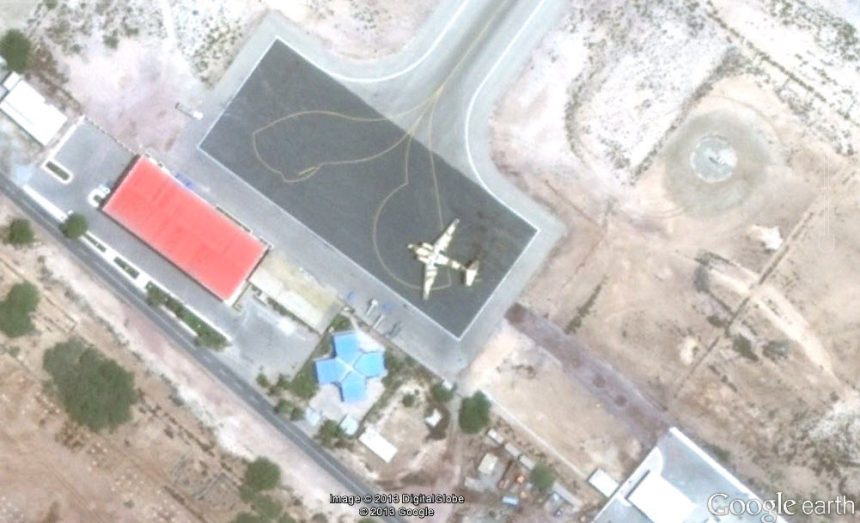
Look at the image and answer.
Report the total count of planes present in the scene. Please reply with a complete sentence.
The photo contains exactly 1 plane.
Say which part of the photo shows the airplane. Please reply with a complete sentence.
The airplane appears toward the center of the photo.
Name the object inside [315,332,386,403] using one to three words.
house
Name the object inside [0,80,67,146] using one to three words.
building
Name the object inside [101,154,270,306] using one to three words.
building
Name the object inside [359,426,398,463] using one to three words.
house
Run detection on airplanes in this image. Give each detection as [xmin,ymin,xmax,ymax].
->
[409,218,482,300]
